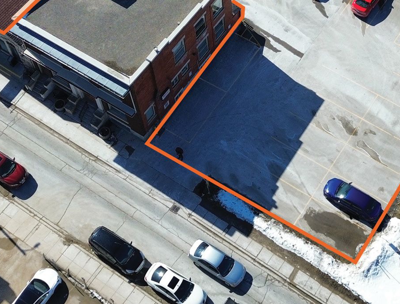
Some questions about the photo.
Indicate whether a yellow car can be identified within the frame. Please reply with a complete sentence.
No, the picture doesn't show any yellow car.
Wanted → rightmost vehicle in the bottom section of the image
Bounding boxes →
[318,184,386,231]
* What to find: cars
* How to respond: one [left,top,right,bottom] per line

[353,0,380,18]
[7,270,65,304]
[185,241,250,289]
[0,154,34,193]
[318,184,386,231]
[86,229,148,276]
[143,265,210,304]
